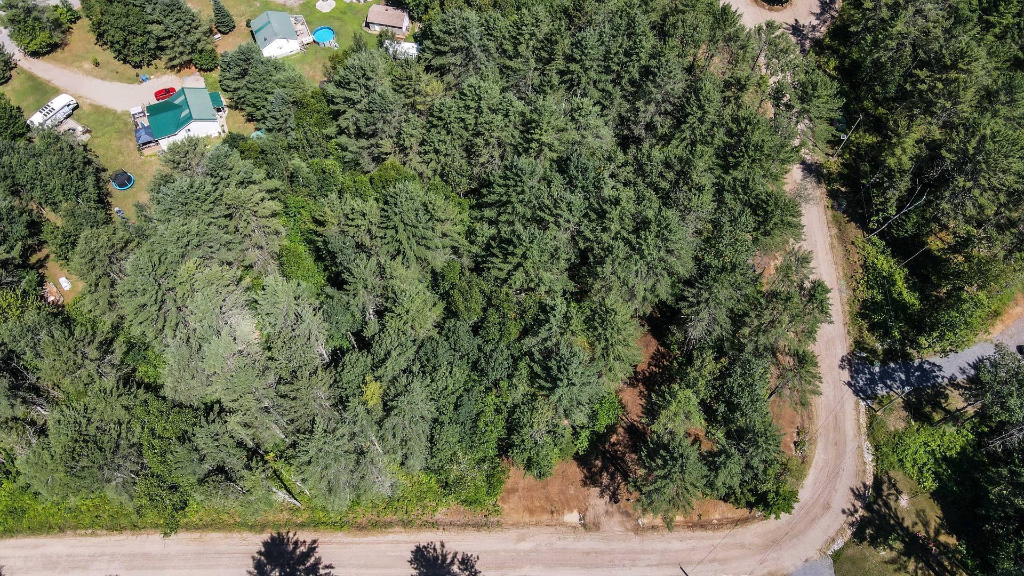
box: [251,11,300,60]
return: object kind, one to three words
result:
house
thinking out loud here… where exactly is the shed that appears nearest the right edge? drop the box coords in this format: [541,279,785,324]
[367,9,409,39]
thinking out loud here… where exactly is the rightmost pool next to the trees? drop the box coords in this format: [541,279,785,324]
[312,26,337,47]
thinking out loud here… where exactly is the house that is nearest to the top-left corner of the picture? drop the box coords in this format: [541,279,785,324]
[146,87,230,145]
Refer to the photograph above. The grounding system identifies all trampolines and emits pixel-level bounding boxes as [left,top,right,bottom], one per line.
[109,168,135,192]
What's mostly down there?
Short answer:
trees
